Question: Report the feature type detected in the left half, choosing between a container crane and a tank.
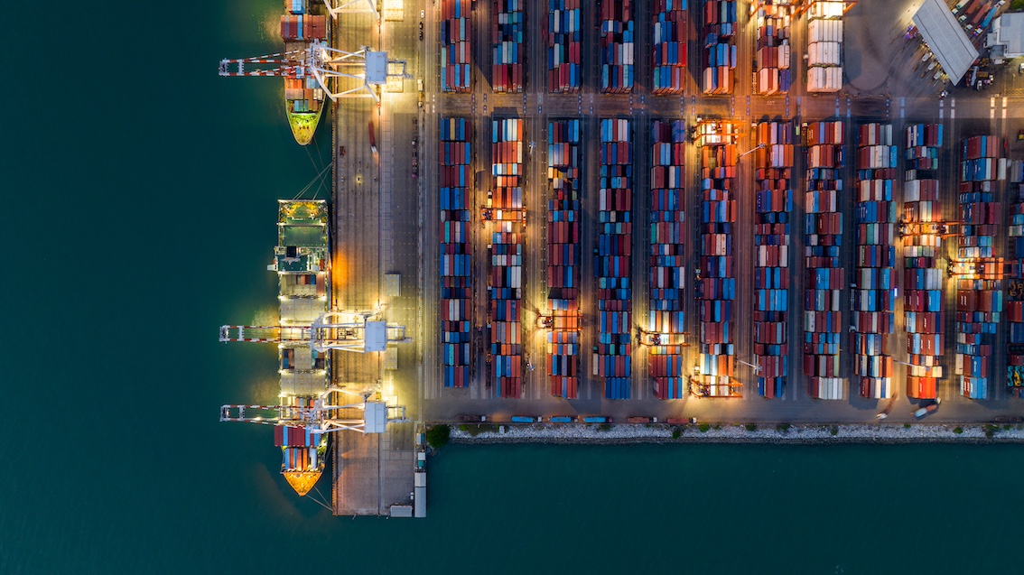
container crane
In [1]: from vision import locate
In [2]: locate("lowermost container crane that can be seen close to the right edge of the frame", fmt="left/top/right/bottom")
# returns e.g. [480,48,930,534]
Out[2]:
[952,258,1023,279]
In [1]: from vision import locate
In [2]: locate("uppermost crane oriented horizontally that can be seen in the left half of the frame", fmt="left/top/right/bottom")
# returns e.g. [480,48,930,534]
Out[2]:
[322,0,380,27]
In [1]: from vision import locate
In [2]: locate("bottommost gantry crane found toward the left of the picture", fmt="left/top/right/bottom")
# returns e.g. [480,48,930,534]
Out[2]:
[220,382,413,434]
